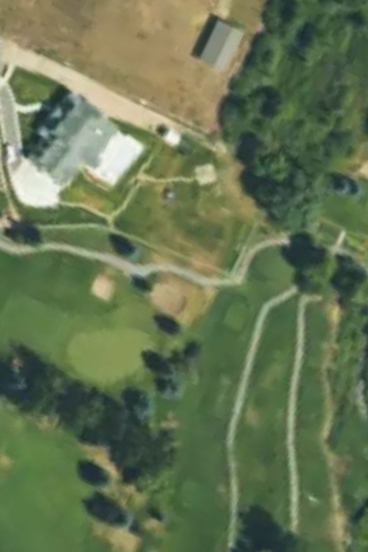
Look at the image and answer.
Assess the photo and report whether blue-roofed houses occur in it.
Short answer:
No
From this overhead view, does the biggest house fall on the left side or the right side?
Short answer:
left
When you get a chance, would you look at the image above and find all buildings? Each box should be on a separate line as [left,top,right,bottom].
[201,17,244,69]
[32,91,144,185]
[162,128,182,147]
